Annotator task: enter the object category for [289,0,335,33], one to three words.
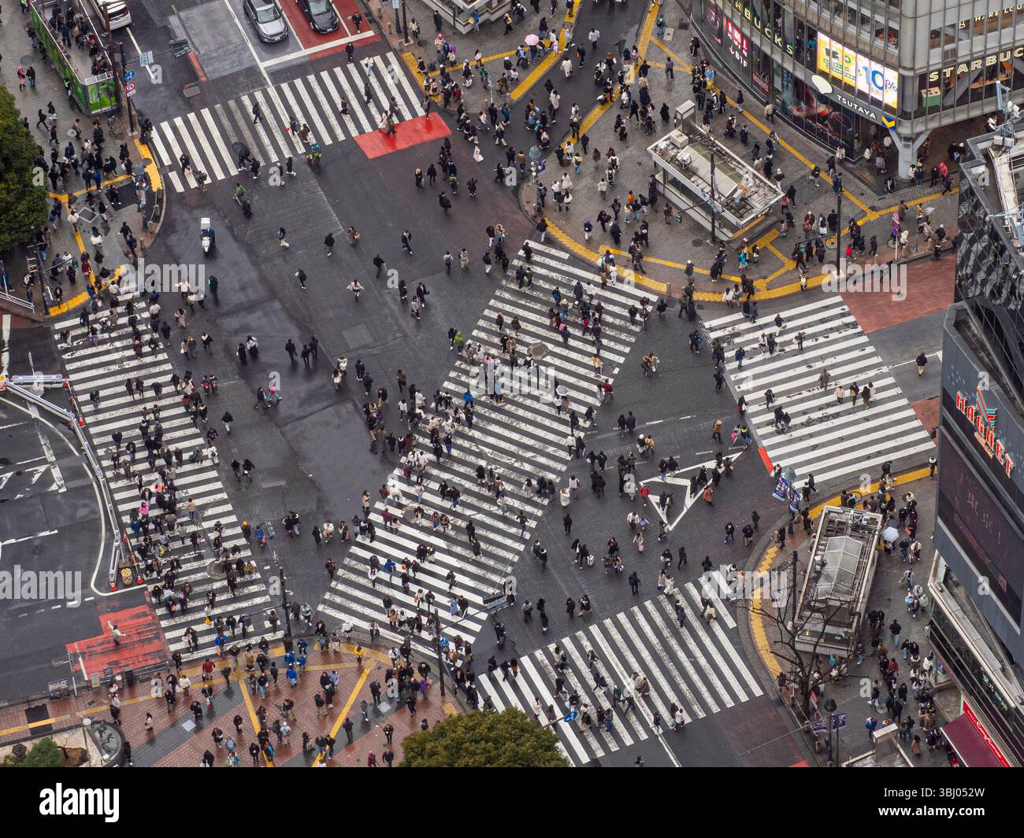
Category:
car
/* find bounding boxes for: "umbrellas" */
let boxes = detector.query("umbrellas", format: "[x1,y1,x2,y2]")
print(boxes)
[230,141,249,163]
[521,33,540,47]
[64,128,79,138]
[882,515,900,528]
[880,527,901,549]
[553,385,570,397]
